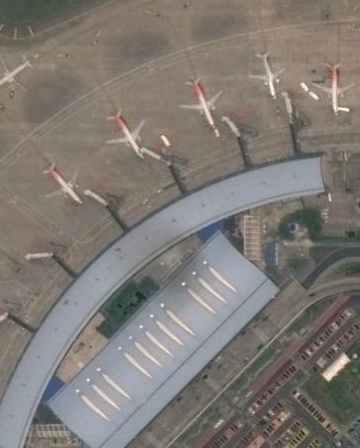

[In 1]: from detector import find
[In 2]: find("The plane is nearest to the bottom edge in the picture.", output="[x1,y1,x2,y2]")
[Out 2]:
[43,160,84,204]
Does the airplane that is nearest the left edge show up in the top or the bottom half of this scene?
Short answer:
top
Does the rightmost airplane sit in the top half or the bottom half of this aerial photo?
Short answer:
top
